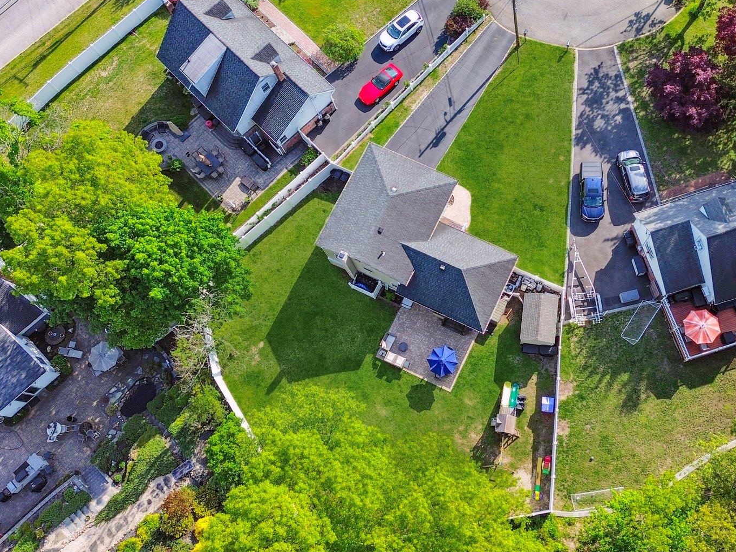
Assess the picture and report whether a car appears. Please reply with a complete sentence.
Yes, the photo shows a car.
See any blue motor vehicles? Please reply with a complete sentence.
Yes, you can see a blue motor vehicle in this photo.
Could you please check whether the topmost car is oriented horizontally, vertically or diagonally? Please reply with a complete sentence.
What the image shows is the topmost car lying diagonally.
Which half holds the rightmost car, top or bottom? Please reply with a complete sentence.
The top half of the photo is where the rightmost car is.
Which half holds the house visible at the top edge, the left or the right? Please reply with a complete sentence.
You can find the house visible at the top edge on the left side of the picture.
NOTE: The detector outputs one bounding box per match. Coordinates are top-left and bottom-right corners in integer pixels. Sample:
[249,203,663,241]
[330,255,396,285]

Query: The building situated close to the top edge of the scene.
[155,0,341,154]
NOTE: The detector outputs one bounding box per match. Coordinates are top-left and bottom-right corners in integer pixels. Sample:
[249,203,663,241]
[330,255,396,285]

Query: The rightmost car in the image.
[618,147,655,206]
